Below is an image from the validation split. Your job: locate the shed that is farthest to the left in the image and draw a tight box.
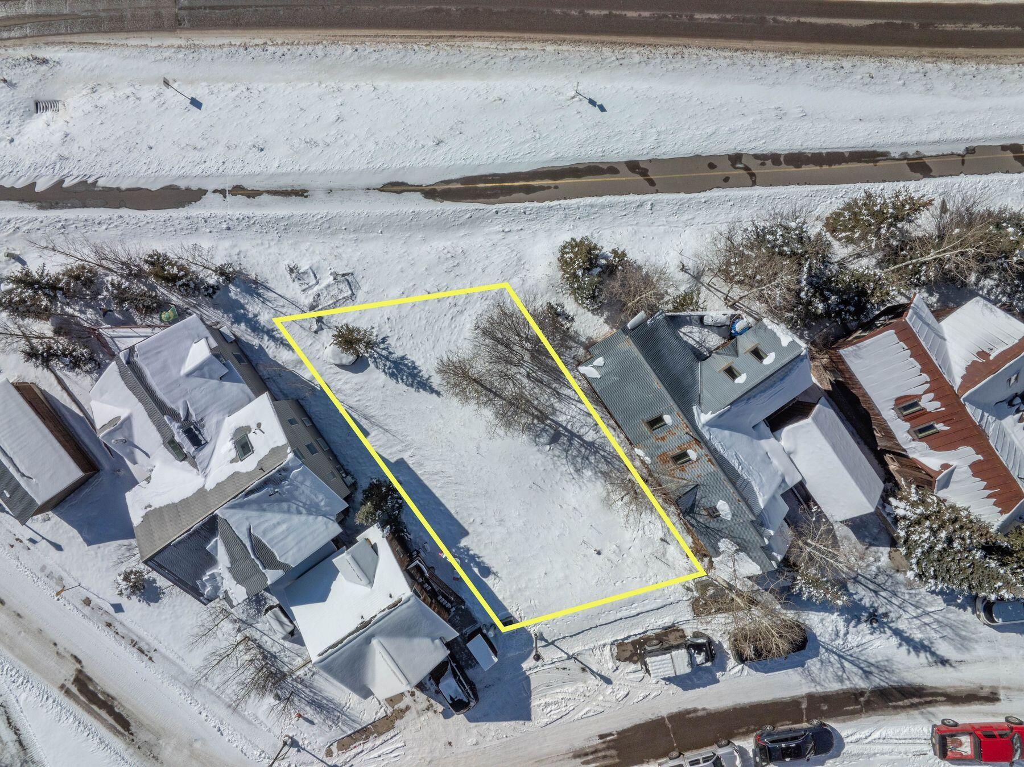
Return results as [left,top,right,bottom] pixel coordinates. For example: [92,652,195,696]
[0,378,103,526]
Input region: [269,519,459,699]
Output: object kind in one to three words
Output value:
house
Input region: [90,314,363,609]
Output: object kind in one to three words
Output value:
house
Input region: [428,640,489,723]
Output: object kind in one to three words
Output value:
car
